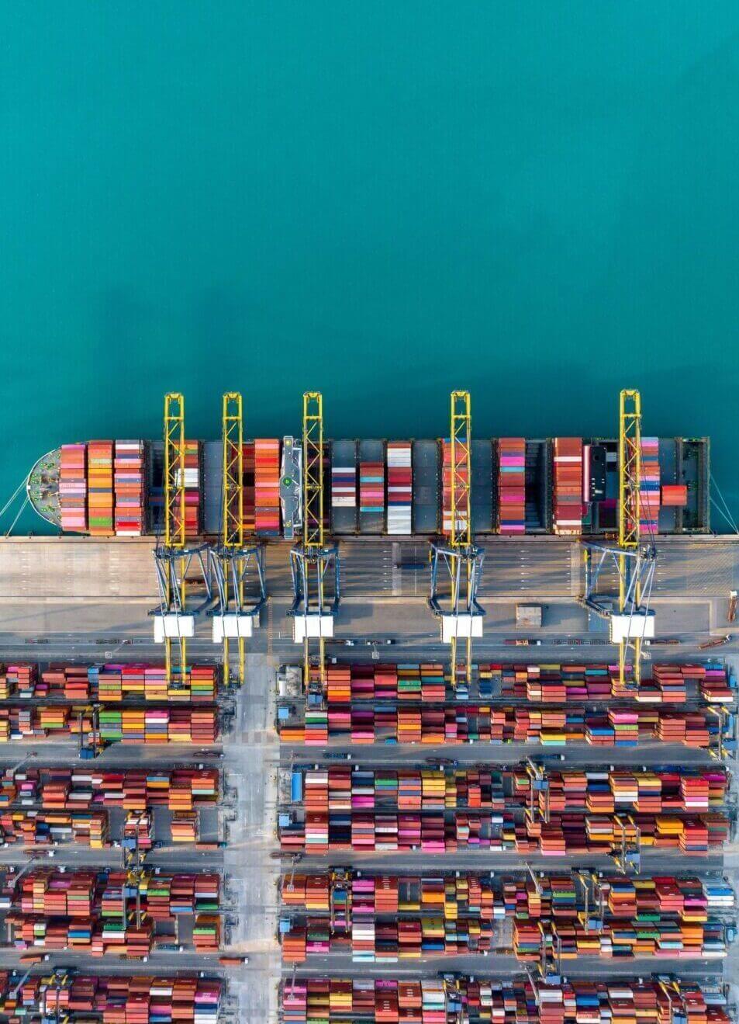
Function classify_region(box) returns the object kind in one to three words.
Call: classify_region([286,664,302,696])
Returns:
building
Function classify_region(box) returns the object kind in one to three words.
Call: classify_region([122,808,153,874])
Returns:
container crane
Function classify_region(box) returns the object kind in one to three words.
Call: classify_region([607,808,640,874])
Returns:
container crane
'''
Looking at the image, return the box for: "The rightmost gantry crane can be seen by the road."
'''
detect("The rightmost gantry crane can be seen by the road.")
[695,702,733,764]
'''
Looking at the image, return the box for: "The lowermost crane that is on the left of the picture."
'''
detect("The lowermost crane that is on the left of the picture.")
[42,967,77,1024]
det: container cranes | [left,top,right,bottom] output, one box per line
[531,915,560,986]
[572,864,603,934]
[425,389,489,687]
[607,808,640,874]
[521,758,549,822]
[122,808,153,874]
[695,702,733,764]
[306,652,329,710]
[203,388,272,687]
[438,967,462,1024]
[287,388,348,687]
[42,967,77,1024]
[145,388,220,687]
[580,388,662,687]
[330,864,352,934]
[78,702,112,764]
[122,864,154,934]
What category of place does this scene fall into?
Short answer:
port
